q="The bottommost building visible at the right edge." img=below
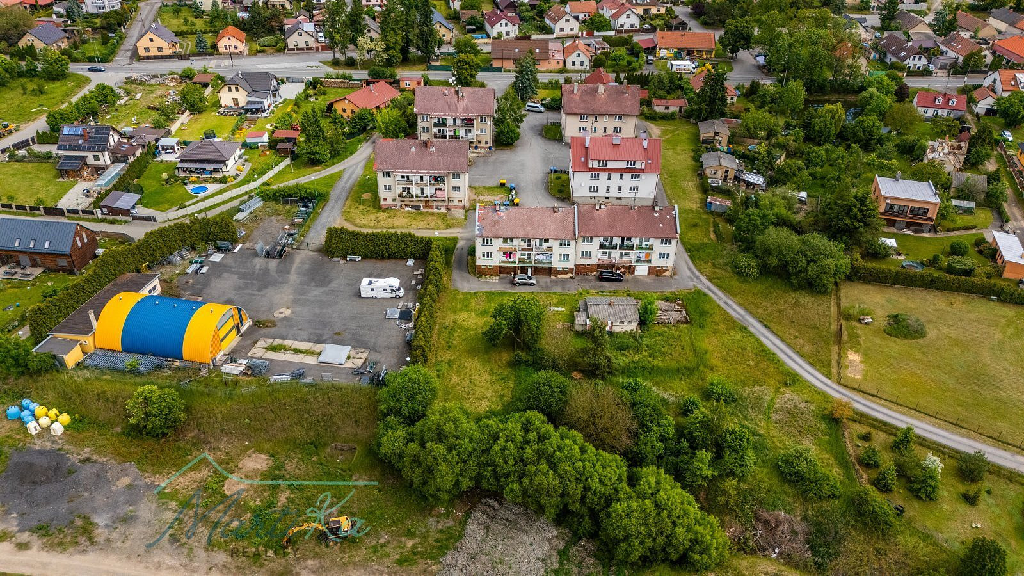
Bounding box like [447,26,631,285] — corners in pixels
[971,229,1024,280]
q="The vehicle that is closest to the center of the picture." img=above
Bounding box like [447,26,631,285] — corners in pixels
[511,274,537,287]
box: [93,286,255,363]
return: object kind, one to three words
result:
hangar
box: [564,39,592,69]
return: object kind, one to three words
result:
house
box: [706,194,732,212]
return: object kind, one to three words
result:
shed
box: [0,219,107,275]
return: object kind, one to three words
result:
barn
